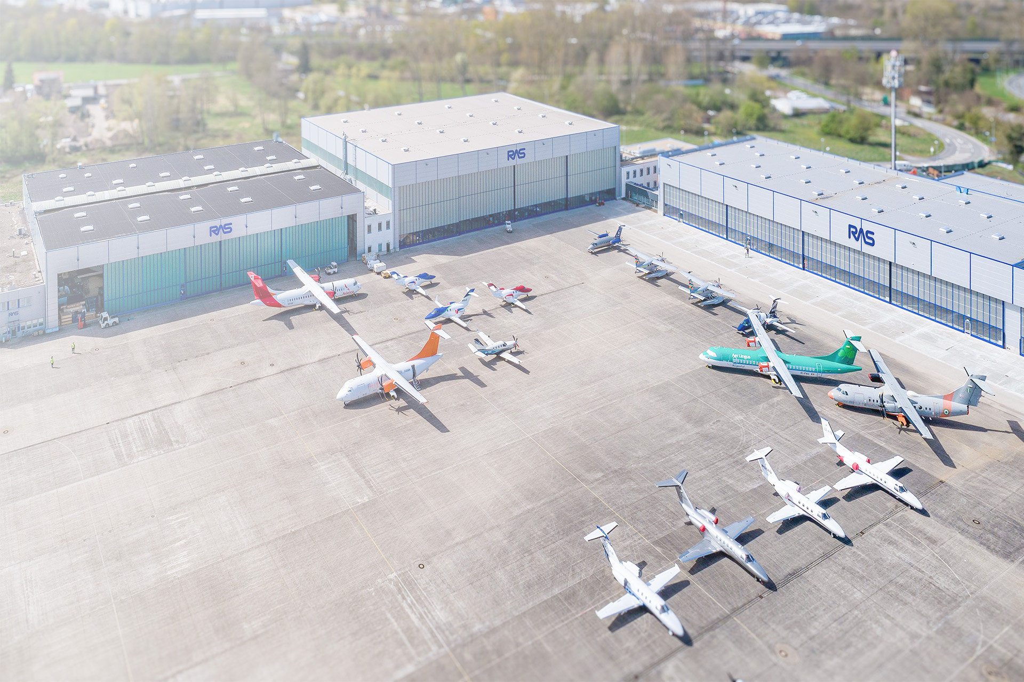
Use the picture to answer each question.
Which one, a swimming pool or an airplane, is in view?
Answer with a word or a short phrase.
airplane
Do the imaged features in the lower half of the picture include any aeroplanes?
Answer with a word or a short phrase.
Yes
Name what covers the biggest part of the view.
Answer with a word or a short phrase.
paved ground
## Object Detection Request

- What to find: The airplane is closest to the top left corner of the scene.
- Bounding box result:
[245,257,364,312]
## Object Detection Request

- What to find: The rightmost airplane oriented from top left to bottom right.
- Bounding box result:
[816,420,923,511]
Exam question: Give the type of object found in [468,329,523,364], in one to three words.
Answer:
airplane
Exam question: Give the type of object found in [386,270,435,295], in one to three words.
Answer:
airplane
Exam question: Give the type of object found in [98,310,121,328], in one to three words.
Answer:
work vehicle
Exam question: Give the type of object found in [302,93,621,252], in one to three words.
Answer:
hangar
